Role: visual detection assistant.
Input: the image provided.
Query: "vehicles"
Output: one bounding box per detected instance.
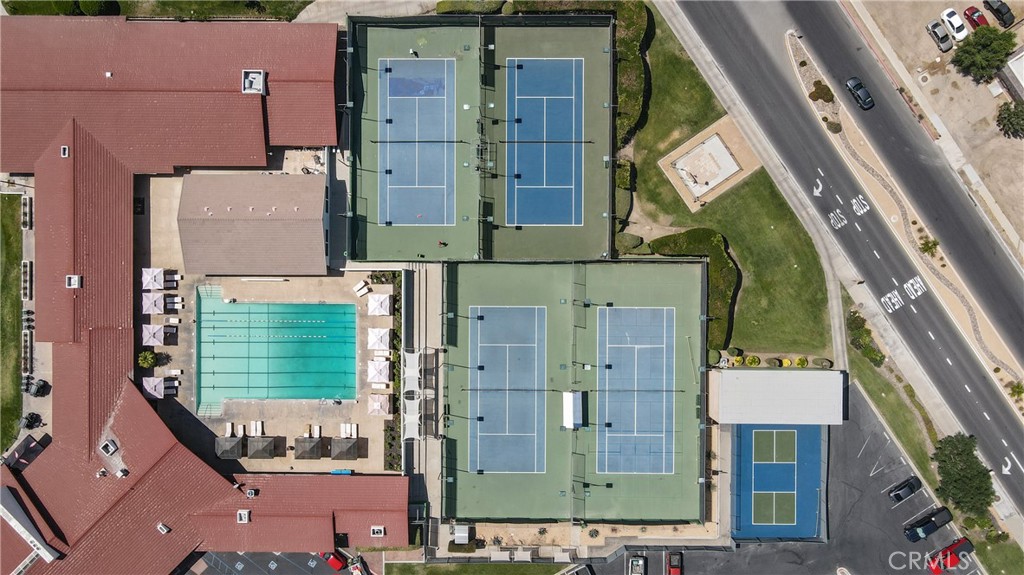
[667,551,683,575]
[926,20,951,53]
[346,556,367,575]
[320,552,347,574]
[930,539,974,571]
[905,507,952,541]
[845,77,873,111]
[939,7,967,42]
[962,2,989,33]
[983,0,1012,28]
[888,476,921,501]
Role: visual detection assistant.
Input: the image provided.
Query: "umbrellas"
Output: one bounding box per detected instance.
[142,268,164,289]
[143,377,165,398]
[368,361,389,382]
[368,394,389,415]
[142,292,164,314]
[368,294,390,315]
[142,323,164,344]
[368,328,390,350]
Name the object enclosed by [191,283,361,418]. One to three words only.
swimming pool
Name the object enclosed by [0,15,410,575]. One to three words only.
building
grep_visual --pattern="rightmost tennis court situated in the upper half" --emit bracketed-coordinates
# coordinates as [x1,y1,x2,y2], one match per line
[481,24,611,261]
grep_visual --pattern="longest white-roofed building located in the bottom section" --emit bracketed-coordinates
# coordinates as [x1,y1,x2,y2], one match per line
[709,368,843,425]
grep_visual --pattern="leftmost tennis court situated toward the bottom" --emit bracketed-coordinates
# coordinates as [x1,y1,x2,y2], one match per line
[444,262,573,518]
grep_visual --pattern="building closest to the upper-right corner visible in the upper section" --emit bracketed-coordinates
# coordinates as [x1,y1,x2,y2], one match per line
[996,51,1024,108]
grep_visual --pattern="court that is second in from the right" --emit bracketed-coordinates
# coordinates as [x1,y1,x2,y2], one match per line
[573,262,701,518]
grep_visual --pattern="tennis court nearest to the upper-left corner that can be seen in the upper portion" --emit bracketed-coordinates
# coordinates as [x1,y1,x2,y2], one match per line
[352,24,481,261]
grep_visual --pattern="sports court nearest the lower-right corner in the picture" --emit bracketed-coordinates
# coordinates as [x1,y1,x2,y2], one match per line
[732,425,821,538]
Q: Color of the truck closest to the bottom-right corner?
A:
red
